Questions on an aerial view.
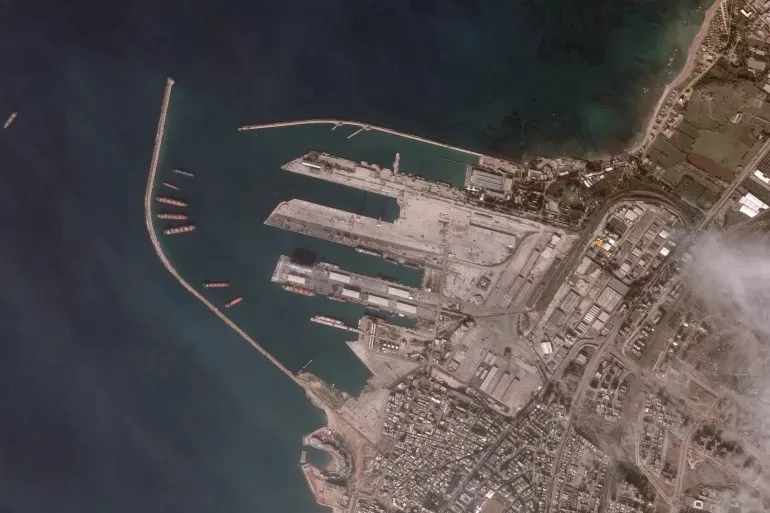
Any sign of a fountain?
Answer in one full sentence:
No, the picture doesn't show any fountain.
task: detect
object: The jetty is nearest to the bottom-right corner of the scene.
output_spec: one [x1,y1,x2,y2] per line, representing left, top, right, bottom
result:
[347,316,434,378]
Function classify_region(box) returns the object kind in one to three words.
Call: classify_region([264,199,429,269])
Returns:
pier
